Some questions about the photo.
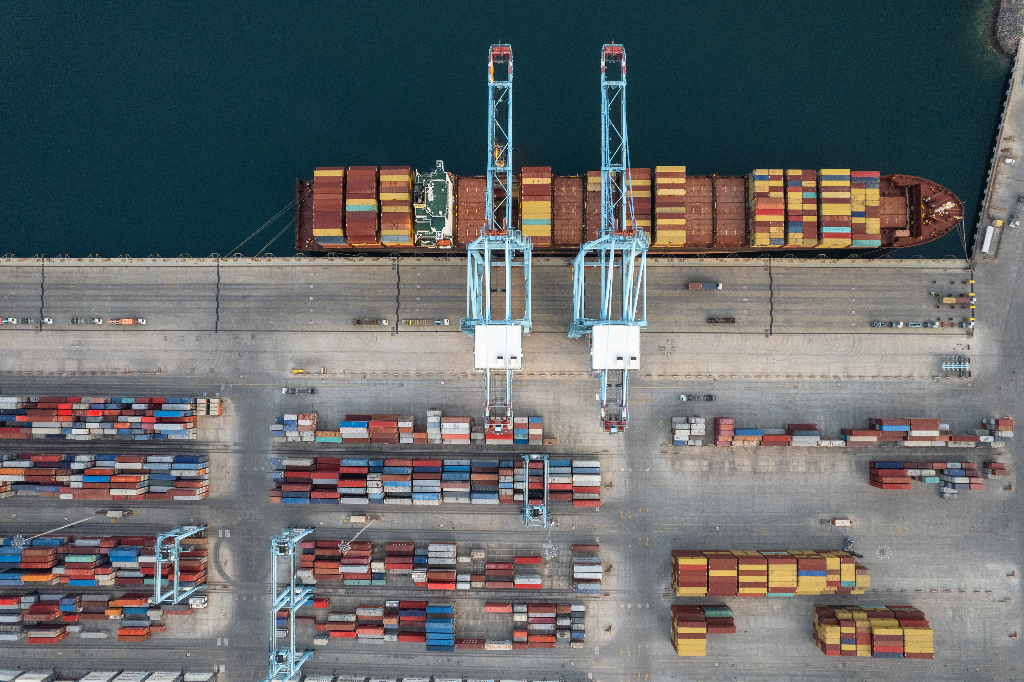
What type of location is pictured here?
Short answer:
port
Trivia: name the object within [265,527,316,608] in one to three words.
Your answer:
crane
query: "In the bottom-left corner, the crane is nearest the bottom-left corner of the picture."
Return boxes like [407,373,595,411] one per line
[150,524,208,604]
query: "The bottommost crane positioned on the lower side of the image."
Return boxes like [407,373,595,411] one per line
[264,594,315,677]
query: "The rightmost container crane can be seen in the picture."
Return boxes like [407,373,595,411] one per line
[565,37,649,438]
